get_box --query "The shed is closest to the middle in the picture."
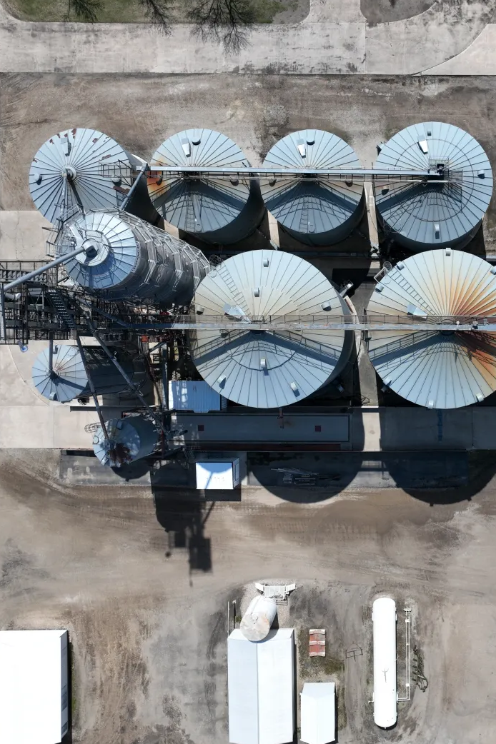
[168,380,227,420]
